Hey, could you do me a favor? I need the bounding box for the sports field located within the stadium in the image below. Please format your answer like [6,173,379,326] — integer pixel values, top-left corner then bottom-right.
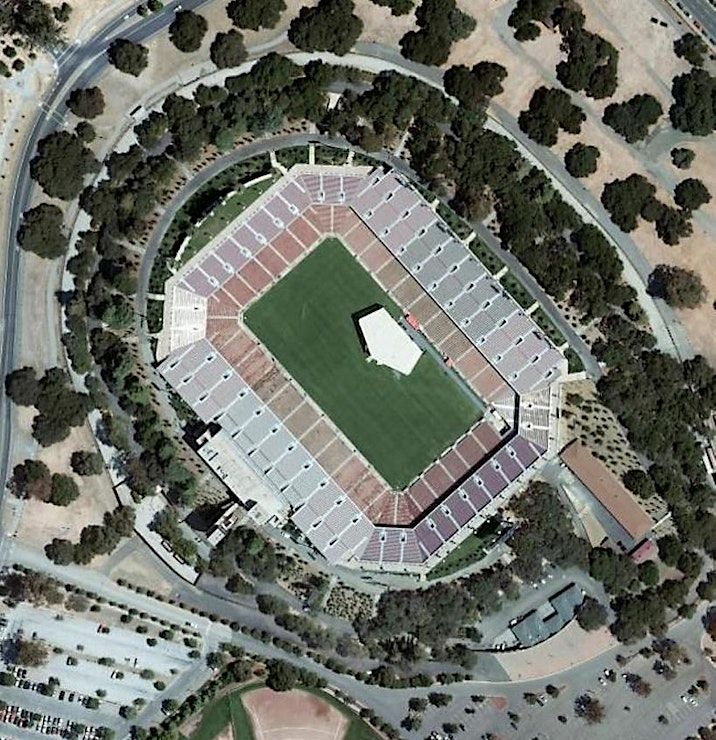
[245,239,514,489]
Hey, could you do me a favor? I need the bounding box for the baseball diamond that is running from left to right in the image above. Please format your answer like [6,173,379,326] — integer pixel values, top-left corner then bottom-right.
[197,683,371,740]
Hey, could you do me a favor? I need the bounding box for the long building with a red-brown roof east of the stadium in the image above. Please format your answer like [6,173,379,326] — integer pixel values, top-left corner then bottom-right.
[562,441,655,542]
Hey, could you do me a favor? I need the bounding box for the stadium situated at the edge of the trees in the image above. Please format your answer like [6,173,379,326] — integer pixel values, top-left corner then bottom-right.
[157,163,567,572]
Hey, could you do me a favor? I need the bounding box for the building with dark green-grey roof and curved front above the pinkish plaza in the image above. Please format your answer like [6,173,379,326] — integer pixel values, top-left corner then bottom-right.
[488,582,586,652]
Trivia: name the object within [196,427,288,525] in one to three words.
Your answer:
building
